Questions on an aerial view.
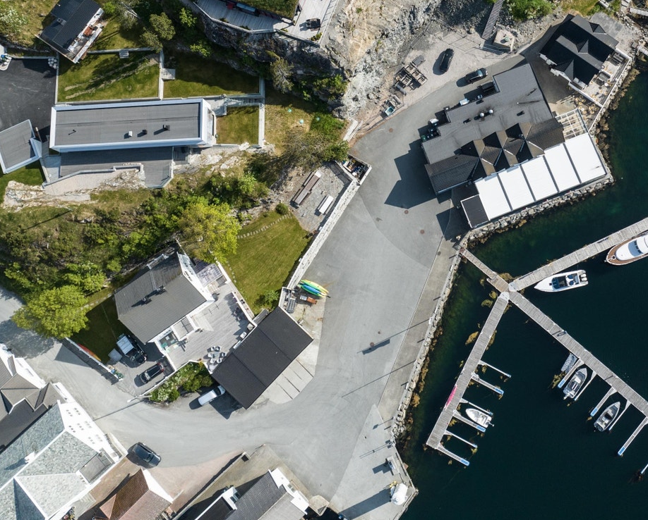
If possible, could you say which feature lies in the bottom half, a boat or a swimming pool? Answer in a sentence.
Looking in the bottom half, you will find a boat.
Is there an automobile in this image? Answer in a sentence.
Yes, there is an automobile in the image.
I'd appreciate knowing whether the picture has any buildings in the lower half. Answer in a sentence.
Yes, looking in the lower half, one can make out a building.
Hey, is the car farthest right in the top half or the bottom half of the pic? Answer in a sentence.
The car farthest right is in the top half of the image.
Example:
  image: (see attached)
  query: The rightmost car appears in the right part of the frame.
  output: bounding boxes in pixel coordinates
[461,65,493,85]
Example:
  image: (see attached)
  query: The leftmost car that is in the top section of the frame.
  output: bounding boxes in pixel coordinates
[435,45,457,76]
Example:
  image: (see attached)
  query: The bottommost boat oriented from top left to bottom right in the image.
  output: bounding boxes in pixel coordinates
[466,409,493,430]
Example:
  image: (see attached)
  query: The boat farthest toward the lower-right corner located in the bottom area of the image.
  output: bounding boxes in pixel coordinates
[594,402,619,433]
